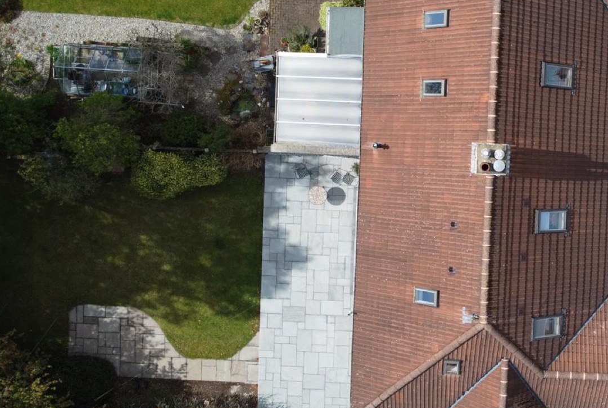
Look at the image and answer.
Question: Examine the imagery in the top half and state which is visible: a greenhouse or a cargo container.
greenhouse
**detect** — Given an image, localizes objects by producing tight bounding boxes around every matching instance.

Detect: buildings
[53,43,159,98]
[346,0,608,408]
